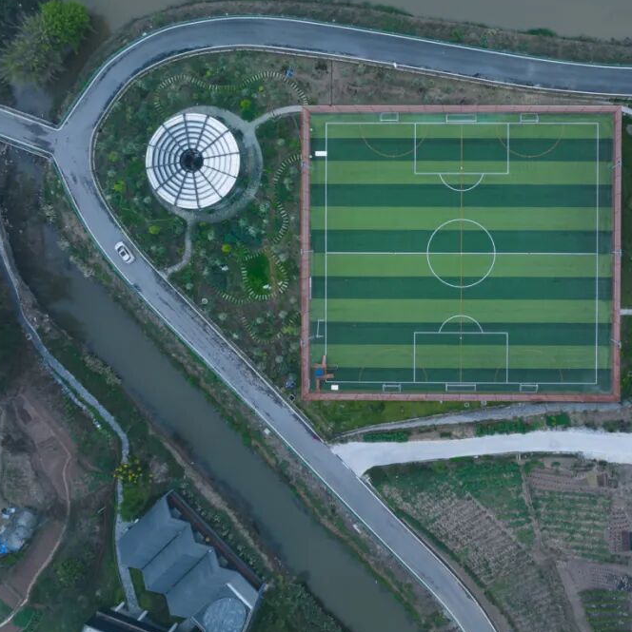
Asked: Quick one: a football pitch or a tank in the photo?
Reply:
football pitch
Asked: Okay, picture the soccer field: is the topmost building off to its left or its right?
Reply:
on its left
